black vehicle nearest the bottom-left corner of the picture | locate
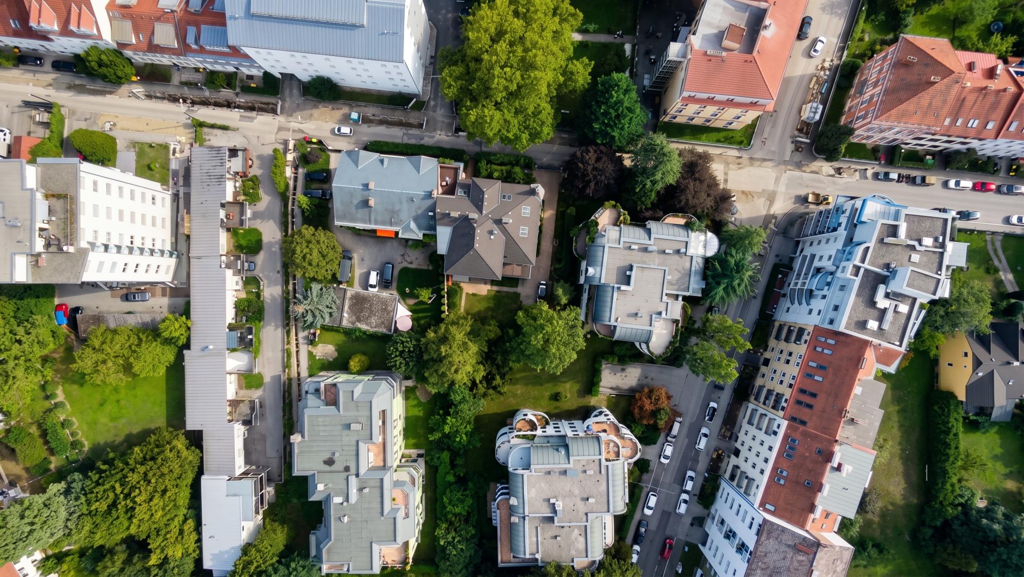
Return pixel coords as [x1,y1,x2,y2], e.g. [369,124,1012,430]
[72,306,85,330]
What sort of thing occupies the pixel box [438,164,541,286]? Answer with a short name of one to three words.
house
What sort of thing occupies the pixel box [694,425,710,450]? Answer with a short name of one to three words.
car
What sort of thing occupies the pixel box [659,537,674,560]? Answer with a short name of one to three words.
car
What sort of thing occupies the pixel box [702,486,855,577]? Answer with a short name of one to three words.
building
